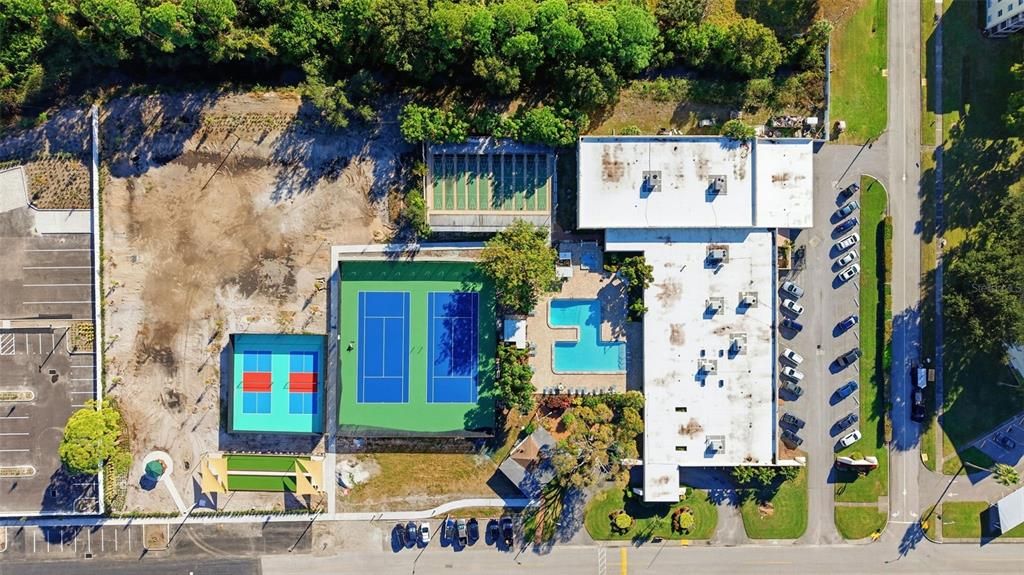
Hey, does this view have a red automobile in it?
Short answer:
No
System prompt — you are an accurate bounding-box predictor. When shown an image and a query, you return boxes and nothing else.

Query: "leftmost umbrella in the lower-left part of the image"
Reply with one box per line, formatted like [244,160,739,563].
[148,456,166,475]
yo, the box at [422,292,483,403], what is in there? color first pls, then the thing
blue tennis court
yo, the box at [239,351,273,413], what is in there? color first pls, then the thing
blue sports court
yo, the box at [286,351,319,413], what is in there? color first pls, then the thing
blue sports court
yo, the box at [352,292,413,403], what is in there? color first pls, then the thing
blue tennis court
